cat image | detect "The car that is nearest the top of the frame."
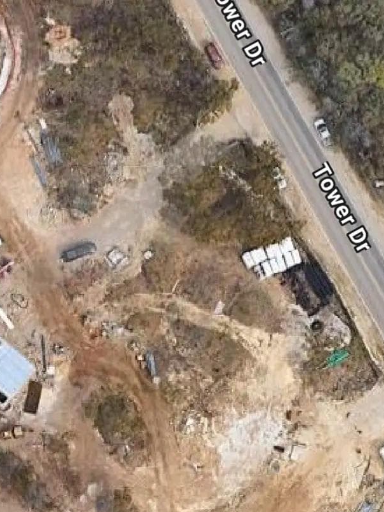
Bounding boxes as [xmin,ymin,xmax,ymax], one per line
[204,41,225,68]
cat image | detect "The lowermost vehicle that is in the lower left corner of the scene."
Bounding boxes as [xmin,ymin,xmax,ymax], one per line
[0,426,22,442]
